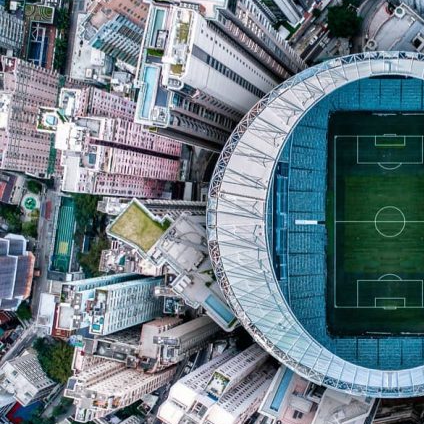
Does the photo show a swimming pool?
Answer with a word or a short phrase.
Yes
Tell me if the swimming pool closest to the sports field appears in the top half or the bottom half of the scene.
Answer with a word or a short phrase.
bottom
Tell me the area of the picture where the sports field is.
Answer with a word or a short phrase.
right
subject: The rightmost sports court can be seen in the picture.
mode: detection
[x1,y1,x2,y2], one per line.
[47,195,76,274]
